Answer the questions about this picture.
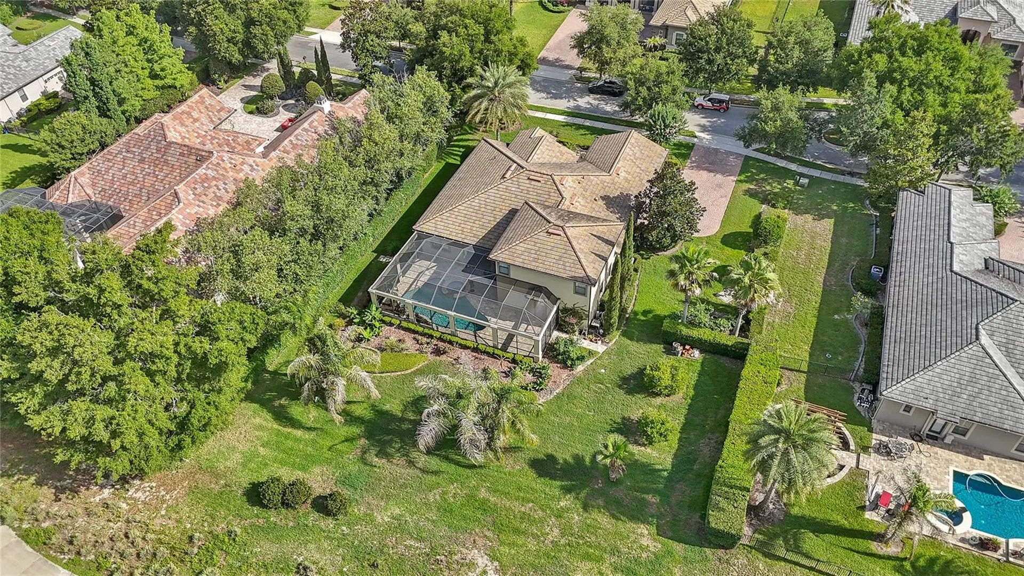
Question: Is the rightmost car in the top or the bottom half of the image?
top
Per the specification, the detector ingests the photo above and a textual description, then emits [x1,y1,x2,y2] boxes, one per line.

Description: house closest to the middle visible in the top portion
[412,126,670,328]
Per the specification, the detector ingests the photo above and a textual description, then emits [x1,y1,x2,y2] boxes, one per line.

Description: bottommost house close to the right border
[872,177,1024,459]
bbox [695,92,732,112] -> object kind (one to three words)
car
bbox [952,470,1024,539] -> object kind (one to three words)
swimming pool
